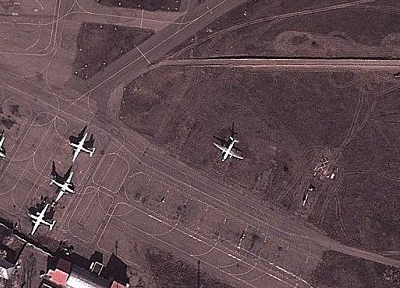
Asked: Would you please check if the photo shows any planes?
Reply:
Yes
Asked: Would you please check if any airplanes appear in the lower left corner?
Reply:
Yes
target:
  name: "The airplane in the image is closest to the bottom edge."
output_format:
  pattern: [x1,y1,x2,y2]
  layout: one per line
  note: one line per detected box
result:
[29,204,56,235]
